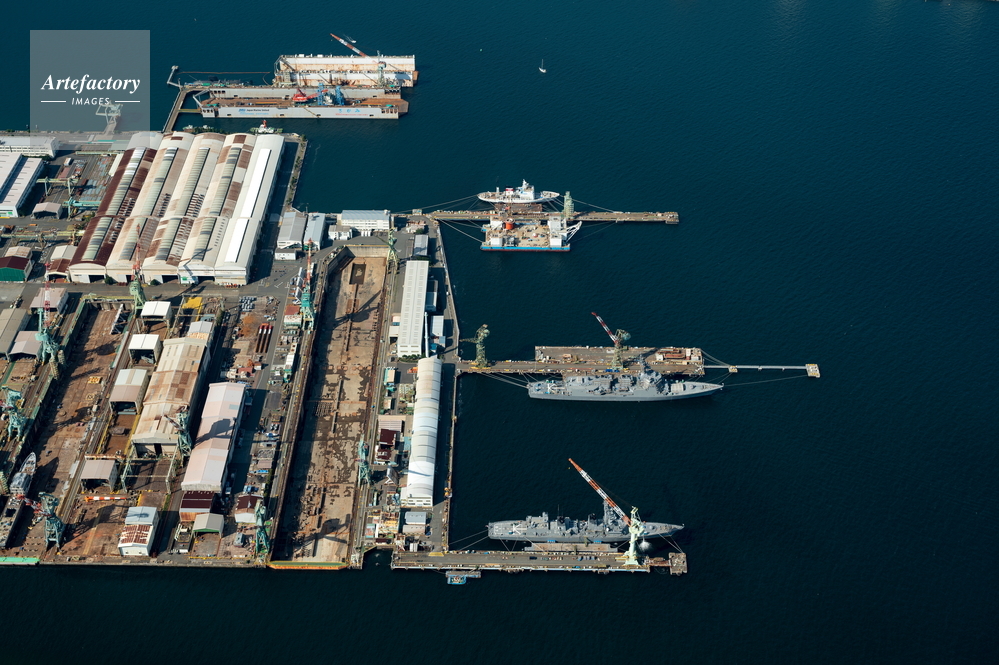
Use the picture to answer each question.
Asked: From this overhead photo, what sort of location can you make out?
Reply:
port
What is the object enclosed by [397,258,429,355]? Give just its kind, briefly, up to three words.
building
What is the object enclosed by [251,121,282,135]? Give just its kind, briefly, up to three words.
boat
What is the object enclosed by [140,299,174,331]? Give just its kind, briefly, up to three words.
shed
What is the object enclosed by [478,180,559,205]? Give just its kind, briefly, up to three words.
ship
